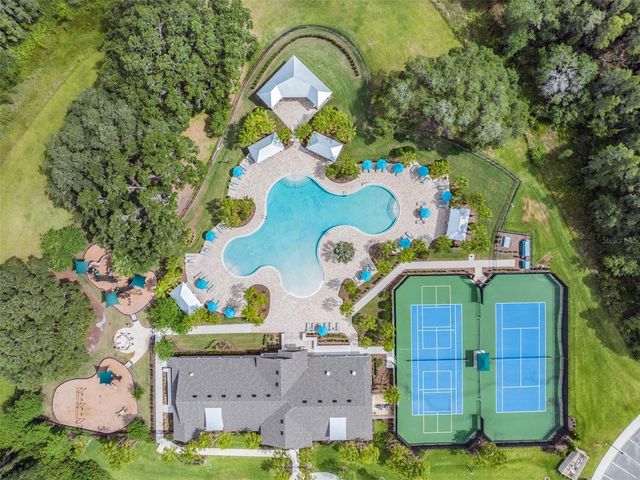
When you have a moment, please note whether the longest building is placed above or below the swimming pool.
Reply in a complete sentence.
You can see the longest building below the swimming pool in the frame.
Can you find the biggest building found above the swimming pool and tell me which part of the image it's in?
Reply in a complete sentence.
The biggest building found above the swimming pool appears toward the top of the photo.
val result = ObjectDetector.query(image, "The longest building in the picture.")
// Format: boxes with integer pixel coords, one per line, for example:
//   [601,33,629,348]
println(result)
[171,346,372,454]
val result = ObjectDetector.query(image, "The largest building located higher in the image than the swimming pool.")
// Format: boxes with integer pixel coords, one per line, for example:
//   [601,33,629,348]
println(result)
[257,55,332,111]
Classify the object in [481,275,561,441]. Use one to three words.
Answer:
tennis court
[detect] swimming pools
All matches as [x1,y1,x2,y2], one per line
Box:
[221,174,401,299]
